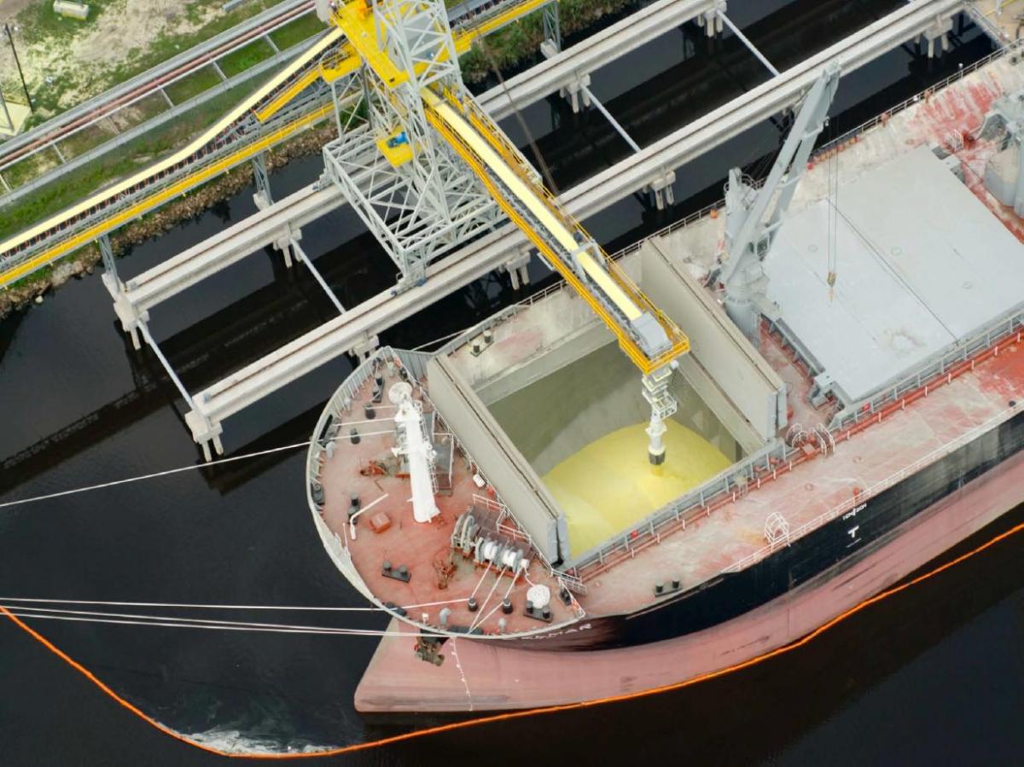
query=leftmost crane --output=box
[706,57,842,359]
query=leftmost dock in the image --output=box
[102,0,970,462]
